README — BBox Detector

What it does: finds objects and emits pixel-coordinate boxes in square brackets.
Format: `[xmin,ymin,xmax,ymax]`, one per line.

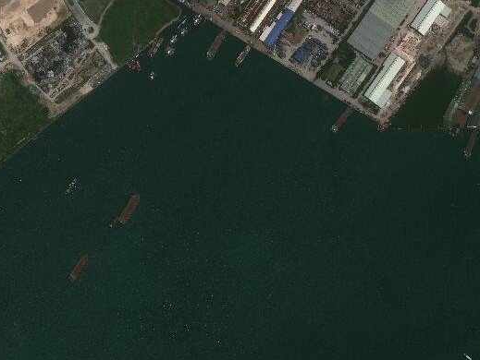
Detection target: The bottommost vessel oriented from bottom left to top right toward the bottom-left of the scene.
[69,254,89,280]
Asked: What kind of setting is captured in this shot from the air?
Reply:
port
